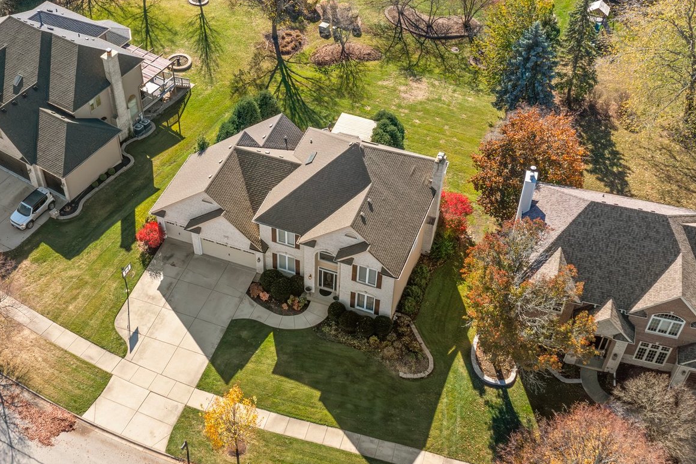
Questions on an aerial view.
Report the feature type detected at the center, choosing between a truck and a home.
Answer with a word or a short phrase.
home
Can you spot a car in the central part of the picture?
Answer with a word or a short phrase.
No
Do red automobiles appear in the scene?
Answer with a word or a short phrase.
No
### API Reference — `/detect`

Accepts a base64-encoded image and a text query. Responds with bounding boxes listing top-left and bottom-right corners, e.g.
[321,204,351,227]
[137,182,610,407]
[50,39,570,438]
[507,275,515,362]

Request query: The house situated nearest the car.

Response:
[0,3,145,201]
